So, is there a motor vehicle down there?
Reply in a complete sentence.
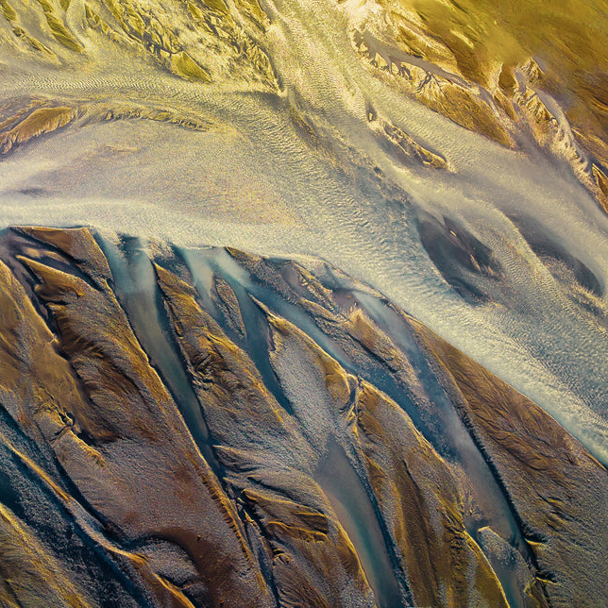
No, there appears to be no motor vehicle in this shot.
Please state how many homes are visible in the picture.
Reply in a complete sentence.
The count of homes is 0.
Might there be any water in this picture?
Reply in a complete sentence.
Yes, there is water in the image.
